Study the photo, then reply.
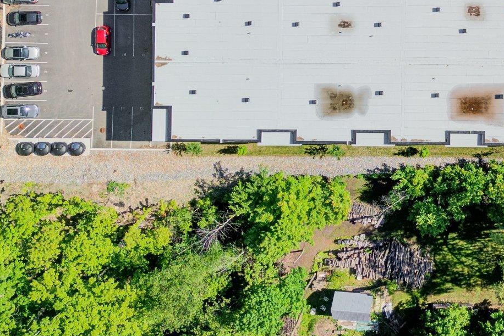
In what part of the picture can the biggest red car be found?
top left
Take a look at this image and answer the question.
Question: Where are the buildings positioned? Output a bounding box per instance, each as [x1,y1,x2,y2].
[330,283,377,323]
[153,0,504,146]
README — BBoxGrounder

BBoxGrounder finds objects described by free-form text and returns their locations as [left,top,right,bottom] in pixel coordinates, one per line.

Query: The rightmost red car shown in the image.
[93,24,112,56]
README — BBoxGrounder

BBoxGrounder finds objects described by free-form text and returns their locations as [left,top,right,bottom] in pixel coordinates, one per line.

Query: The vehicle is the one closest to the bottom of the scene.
[1,103,39,120]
